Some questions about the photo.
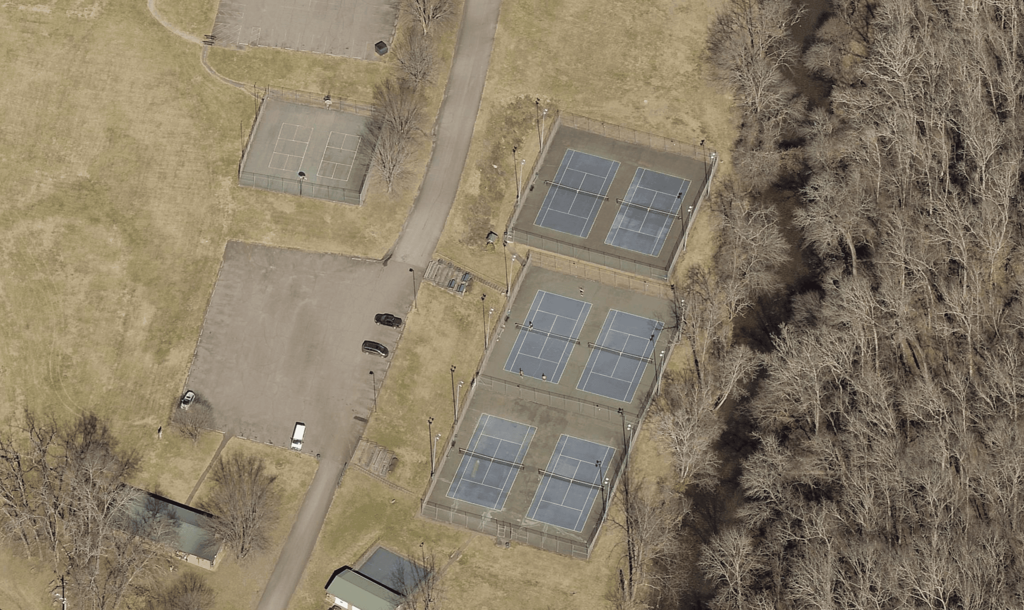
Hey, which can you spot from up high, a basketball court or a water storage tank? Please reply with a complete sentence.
Visible in the photo is a basketball court.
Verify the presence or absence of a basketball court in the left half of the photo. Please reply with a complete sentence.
Yes, I can see a basketball court in the left half of the photo.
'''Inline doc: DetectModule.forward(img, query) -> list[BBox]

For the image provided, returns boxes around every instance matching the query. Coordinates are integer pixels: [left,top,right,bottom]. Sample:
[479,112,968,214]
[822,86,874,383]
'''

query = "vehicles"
[291,425,306,452]
[179,392,196,410]
[372,315,403,330]
[362,343,389,359]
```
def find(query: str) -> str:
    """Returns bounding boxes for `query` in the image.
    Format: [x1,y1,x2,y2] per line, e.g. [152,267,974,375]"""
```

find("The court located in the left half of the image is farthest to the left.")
[238,98,389,206]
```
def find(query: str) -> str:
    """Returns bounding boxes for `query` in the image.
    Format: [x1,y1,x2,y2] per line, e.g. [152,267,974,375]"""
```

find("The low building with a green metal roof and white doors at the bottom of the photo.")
[329,569,406,610]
